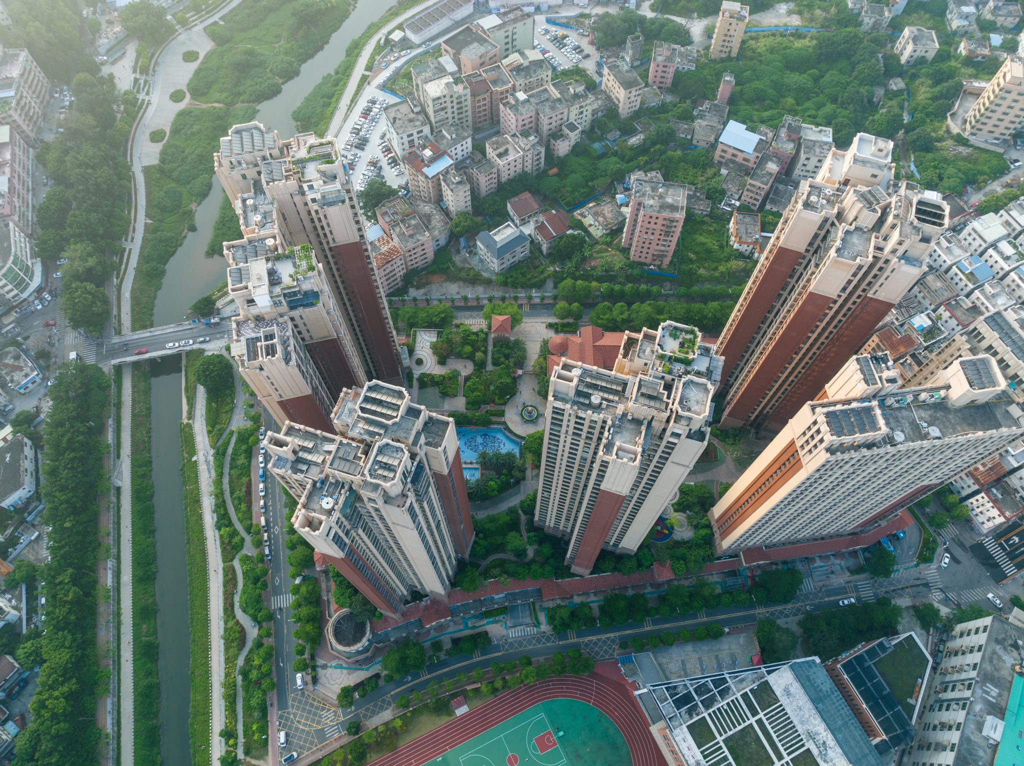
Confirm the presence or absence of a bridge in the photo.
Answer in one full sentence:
Yes, there's a bridge here.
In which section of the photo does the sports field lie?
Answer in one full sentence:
The sports field is in the bottom part of the image.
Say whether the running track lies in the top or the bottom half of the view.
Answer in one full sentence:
It is in the bottom half that the running track appears.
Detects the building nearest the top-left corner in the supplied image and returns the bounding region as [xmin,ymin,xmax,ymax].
[0,45,56,139]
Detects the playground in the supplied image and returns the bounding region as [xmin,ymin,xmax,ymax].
[646,515,677,548]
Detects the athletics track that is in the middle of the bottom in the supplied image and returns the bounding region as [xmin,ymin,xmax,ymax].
[356,671,647,766]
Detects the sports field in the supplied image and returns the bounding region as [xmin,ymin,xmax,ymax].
[419,699,634,766]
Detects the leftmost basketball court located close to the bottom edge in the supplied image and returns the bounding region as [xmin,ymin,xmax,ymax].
[453,704,574,766]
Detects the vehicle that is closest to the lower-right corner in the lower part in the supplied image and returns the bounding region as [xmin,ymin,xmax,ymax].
[987,594,1002,608]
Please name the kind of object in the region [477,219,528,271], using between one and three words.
house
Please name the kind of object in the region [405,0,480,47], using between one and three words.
shed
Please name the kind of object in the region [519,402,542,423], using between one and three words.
fountain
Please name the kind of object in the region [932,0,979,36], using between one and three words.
building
